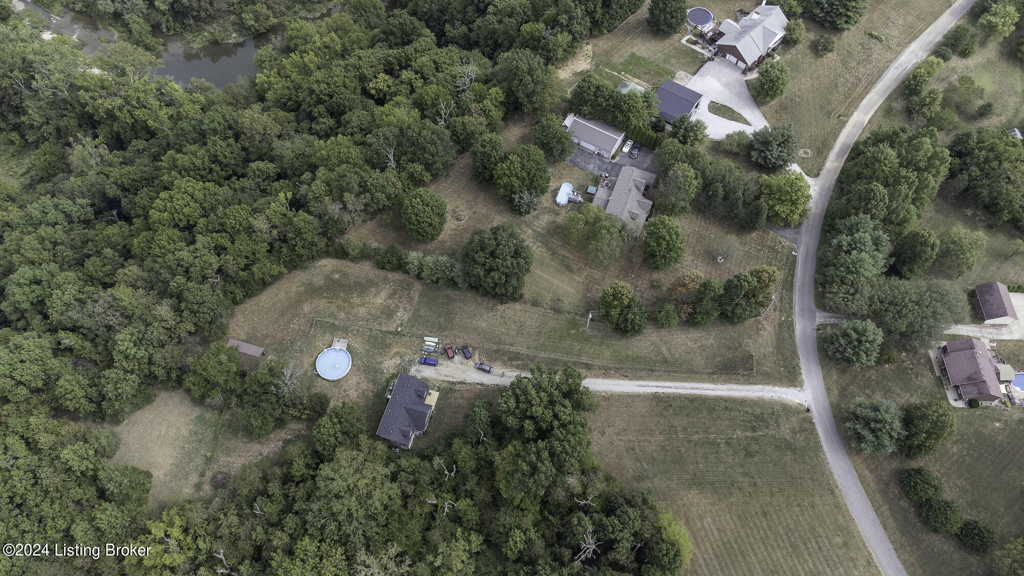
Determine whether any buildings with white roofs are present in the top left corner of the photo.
No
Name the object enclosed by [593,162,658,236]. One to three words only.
house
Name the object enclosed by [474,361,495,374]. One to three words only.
vehicle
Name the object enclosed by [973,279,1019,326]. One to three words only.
building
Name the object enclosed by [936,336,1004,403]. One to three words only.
house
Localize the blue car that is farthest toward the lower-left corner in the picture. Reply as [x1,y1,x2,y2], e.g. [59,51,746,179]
[419,356,439,368]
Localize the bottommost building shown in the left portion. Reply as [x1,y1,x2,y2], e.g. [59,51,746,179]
[375,373,439,449]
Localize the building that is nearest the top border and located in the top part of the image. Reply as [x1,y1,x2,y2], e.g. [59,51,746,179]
[707,0,790,69]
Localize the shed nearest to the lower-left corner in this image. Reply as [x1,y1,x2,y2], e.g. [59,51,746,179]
[225,336,268,374]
